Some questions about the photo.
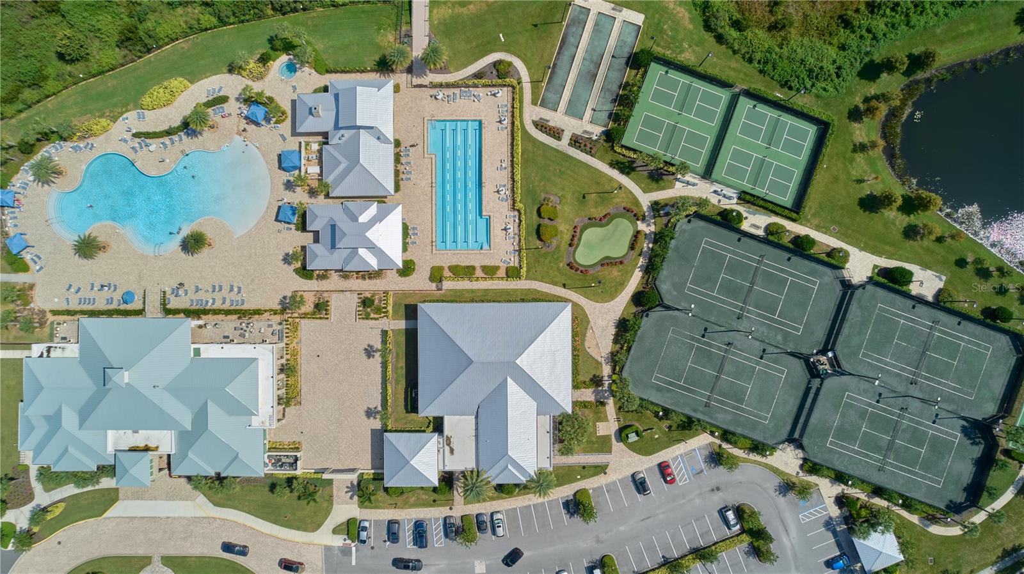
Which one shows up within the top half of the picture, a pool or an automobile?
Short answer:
pool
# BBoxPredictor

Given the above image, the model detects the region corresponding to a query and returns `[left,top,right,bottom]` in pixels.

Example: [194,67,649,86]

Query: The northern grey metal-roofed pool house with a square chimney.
[297,80,394,196]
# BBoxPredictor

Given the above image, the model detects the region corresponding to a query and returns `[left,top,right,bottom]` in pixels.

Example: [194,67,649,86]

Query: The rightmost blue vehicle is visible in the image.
[825,553,849,571]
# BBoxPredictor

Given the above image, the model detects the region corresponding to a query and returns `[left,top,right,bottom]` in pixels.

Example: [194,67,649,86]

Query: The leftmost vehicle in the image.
[222,541,249,556]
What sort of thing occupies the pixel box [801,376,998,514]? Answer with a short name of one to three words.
tennis court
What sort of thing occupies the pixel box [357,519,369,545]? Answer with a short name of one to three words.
vehicle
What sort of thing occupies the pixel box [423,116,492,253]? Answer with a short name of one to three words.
swimming pool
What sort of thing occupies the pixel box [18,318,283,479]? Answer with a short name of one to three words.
building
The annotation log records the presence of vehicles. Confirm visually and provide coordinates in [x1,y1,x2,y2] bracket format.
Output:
[279,558,306,572]
[222,541,249,556]
[659,460,676,485]
[357,519,369,545]
[491,511,504,538]
[388,518,399,544]
[501,546,525,567]
[393,557,423,571]
[825,553,849,571]
[477,512,488,534]
[445,514,457,540]
[633,470,650,496]
[719,506,738,531]
[415,520,427,549]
